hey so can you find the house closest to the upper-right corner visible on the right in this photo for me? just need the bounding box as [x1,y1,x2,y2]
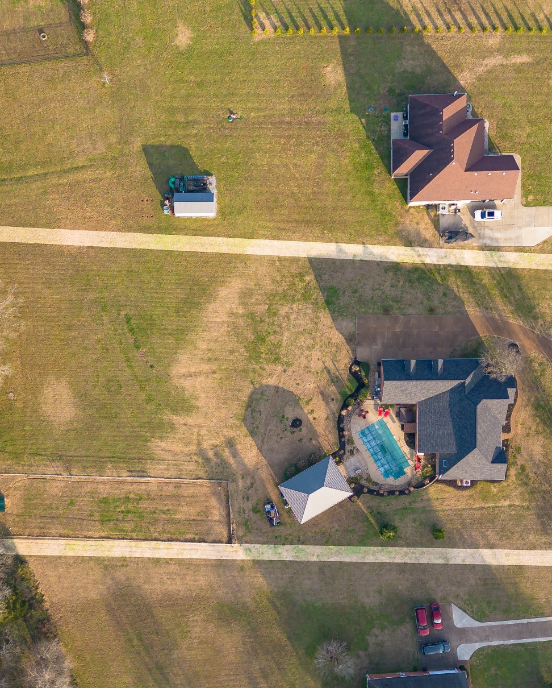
[390,90,519,205]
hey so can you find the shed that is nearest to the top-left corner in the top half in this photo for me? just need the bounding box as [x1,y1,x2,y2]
[174,192,215,216]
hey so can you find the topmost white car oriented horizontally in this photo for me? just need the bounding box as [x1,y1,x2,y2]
[476,209,505,222]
